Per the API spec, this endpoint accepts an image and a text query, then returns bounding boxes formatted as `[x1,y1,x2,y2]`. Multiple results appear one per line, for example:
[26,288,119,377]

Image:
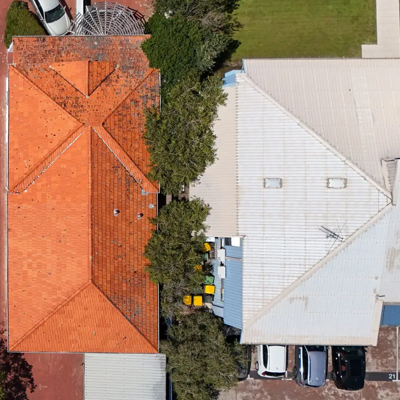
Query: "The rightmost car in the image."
[332,347,367,392]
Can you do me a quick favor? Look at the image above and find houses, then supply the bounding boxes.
[2,35,162,354]
[185,58,400,348]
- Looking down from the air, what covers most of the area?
buildings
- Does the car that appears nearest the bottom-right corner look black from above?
Yes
